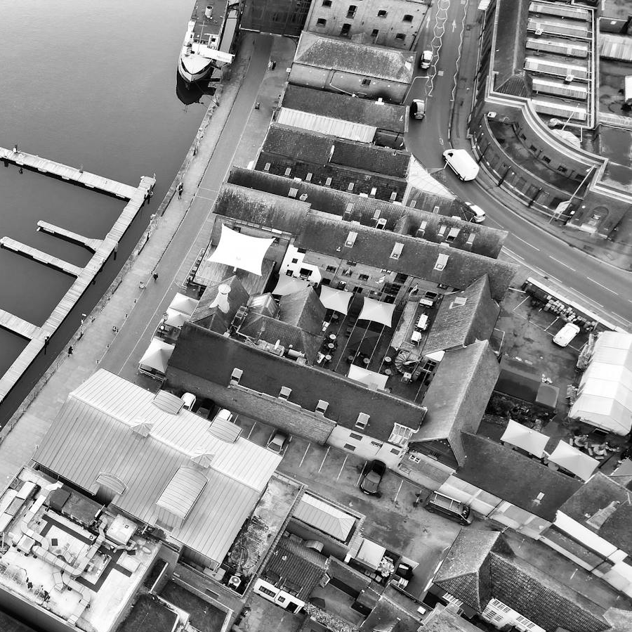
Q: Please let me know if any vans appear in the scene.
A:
Yes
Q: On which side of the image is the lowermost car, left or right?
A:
right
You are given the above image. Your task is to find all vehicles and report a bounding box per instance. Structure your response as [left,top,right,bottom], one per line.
[466,202,488,223]
[552,323,580,347]
[424,486,469,524]
[214,403,235,419]
[264,424,291,455]
[359,459,390,494]
[196,394,217,421]
[182,386,197,411]
[411,100,425,121]
[441,150,485,182]
[418,53,434,71]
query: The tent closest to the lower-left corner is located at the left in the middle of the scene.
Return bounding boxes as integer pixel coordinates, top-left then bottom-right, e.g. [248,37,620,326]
[137,337,176,387]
